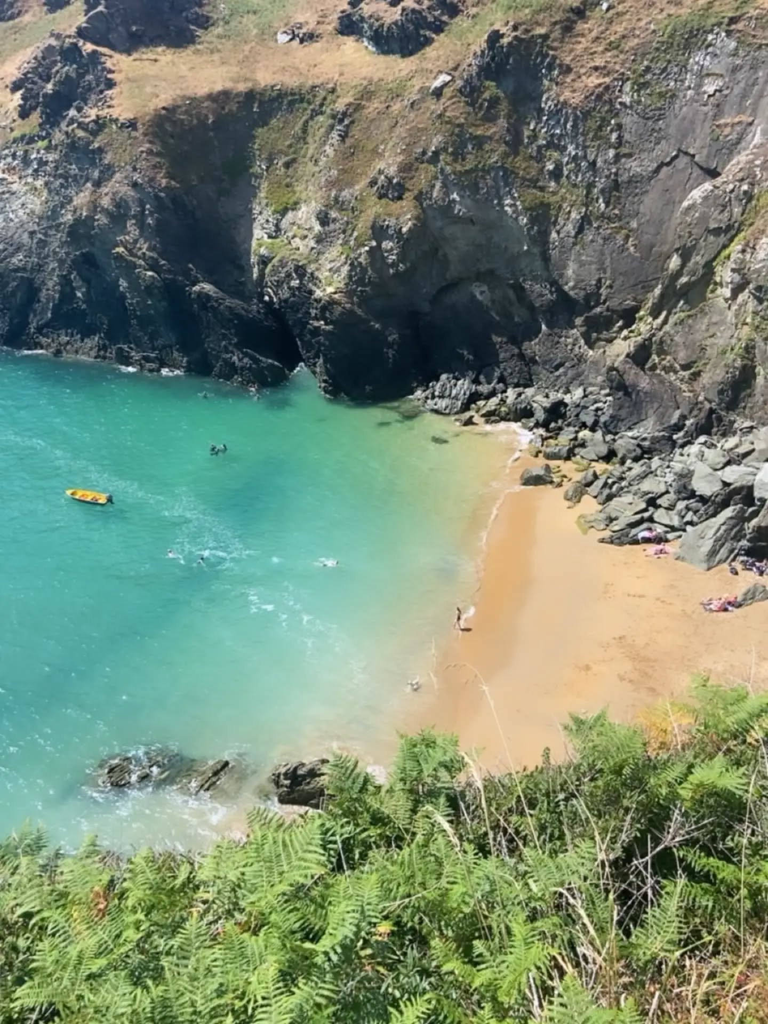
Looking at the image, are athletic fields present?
No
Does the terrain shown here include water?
Yes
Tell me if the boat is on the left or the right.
left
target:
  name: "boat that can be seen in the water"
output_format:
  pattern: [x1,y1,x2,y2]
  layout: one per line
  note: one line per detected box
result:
[64,492,111,512]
